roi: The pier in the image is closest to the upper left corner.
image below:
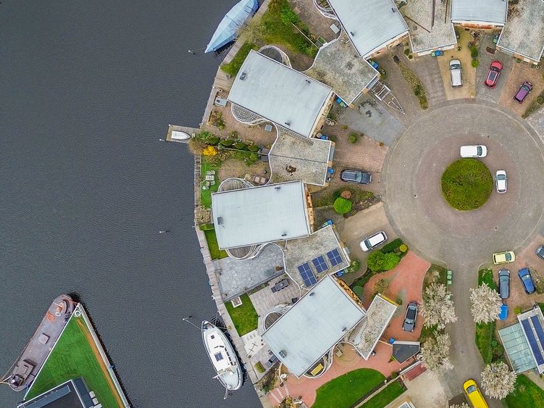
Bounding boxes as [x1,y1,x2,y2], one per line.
[159,123,200,142]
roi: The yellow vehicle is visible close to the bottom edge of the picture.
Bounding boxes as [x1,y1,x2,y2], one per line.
[467,379,489,408]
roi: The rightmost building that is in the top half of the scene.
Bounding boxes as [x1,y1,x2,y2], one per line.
[497,0,544,63]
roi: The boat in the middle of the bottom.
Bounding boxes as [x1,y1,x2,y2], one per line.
[188,312,241,403]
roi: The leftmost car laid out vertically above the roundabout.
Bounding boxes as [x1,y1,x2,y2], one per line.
[449,59,463,88]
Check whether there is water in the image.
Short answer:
Yes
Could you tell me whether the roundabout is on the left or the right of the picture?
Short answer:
right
